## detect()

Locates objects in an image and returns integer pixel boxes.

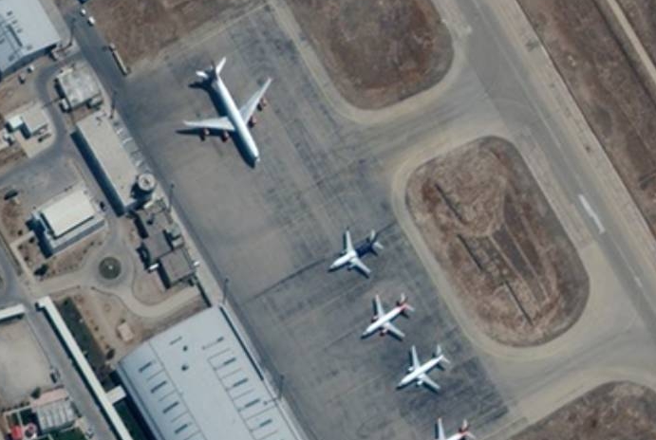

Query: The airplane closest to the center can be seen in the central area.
[327,230,381,273]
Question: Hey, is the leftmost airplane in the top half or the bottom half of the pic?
top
